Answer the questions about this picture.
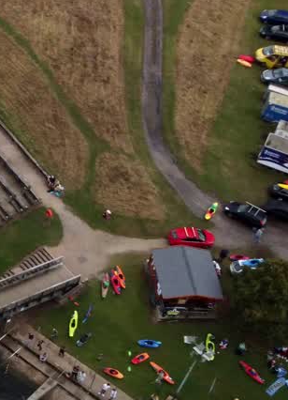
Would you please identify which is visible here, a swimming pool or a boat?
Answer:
boat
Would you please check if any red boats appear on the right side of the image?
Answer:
Yes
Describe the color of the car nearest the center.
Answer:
red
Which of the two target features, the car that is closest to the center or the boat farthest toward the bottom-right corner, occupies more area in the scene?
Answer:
the car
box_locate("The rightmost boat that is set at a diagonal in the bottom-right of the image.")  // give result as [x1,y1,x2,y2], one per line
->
[238,360,265,385]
